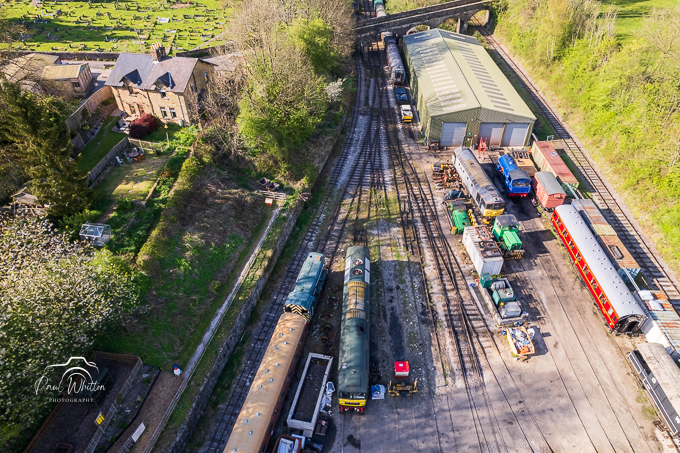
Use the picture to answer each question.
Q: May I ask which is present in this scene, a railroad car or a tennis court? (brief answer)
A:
railroad car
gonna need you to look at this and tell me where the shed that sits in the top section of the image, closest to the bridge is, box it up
[402,29,543,149]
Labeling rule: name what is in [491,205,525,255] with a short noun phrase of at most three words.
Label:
rail car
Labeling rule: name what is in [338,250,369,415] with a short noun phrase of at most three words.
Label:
rail car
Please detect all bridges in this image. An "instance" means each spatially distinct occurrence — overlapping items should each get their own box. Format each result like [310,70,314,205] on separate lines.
[339,0,517,48]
